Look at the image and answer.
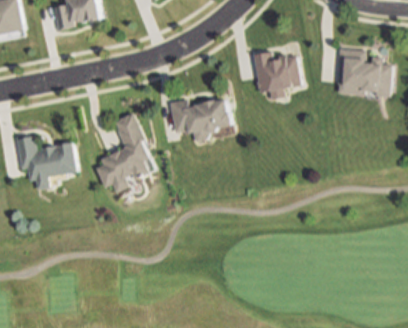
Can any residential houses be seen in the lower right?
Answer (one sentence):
No, I see no residential house in the lower right.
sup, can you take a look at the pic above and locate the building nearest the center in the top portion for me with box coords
[172,98,238,147]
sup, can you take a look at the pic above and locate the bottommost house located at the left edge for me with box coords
[18,134,80,192]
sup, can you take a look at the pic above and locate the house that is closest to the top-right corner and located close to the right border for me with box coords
[338,48,398,100]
